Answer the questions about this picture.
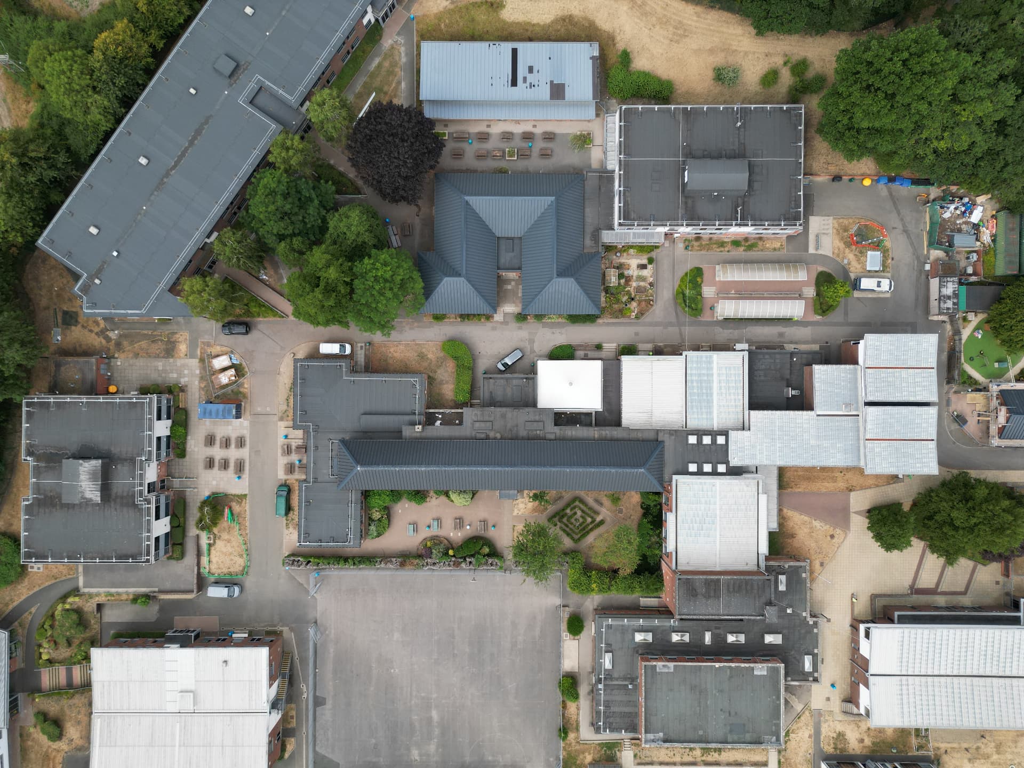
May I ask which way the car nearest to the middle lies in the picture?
on a diagonal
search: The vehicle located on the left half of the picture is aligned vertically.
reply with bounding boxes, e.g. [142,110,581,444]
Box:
[276,483,291,516]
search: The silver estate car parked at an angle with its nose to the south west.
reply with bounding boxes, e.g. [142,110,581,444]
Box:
[495,346,524,373]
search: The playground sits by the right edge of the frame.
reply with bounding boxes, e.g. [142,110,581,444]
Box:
[965,328,1024,378]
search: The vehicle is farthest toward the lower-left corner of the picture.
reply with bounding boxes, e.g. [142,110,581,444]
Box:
[208,582,244,598]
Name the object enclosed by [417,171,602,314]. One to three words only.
building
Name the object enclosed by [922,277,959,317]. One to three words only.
shed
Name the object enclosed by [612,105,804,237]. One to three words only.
building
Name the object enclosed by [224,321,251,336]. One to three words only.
car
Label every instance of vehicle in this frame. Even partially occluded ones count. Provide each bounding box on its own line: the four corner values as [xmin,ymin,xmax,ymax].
[495,346,524,373]
[276,483,291,516]
[319,341,352,356]
[224,321,251,336]
[850,277,889,293]
[208,582,244,598]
